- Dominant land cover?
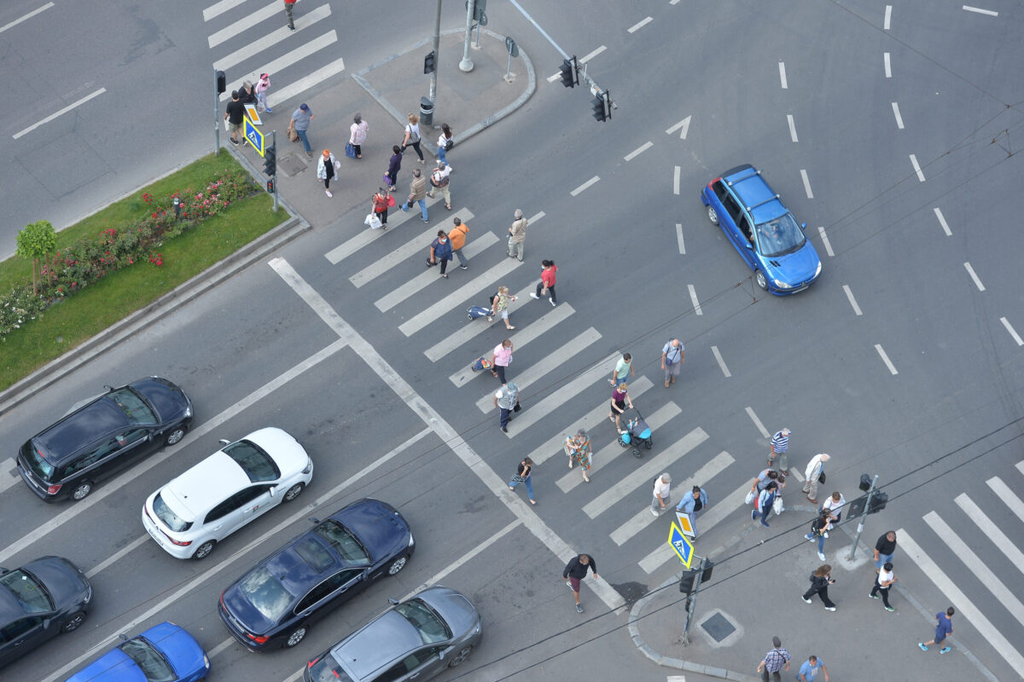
paved ground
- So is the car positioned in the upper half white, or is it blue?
blue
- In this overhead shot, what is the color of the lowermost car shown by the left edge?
blue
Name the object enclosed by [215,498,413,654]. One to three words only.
car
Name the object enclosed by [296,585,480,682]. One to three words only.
car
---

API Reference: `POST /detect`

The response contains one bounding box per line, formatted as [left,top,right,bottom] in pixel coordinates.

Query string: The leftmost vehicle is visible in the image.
[0,551,94,671]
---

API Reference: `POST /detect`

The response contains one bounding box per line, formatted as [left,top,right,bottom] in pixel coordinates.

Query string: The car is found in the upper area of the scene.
[704,161,824,296]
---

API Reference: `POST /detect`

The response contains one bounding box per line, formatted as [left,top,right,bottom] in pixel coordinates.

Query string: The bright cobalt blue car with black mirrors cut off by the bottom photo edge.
[42,617,203,682]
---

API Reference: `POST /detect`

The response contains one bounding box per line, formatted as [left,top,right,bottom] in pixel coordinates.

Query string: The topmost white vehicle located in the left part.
[135,425,311,561]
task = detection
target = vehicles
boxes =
[135,425,311,561]
[296,585,480,682]
[0,551,94,671]
[215,498,413,654]
[704,161,824,296]
[14,373,195,503]
[42,617,203,682]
